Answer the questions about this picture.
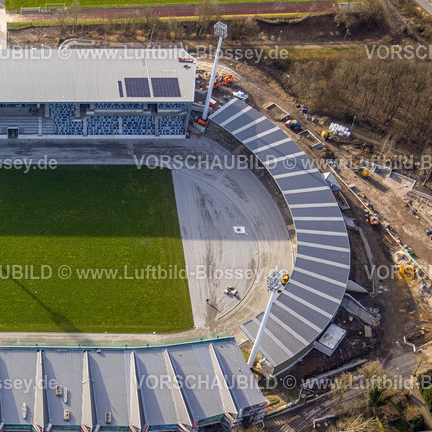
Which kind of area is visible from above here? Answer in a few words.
sports ground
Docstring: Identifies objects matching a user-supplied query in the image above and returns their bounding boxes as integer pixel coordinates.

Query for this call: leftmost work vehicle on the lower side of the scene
[222,284,242,299]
